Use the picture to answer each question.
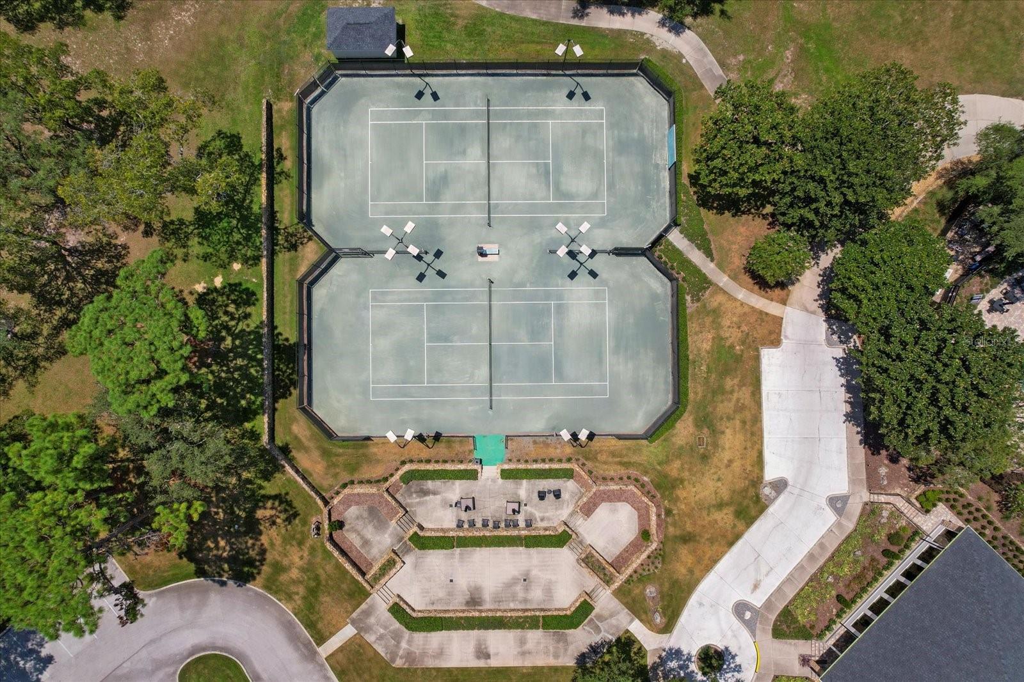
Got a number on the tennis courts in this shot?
2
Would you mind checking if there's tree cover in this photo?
Yes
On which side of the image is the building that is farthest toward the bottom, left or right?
right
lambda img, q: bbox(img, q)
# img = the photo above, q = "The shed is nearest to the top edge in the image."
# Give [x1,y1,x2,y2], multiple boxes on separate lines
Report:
[327,7,397,58]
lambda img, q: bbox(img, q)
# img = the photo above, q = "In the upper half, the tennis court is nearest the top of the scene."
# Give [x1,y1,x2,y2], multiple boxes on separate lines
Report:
[306,70,671,254]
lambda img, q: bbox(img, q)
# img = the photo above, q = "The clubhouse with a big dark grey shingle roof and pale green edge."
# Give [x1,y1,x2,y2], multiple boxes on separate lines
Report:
[796,523,1024,682]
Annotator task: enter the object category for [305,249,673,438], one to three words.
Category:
tennis court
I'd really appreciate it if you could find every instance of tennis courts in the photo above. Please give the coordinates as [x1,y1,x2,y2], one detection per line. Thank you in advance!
[306,70,671,254]
[305,249,673,438]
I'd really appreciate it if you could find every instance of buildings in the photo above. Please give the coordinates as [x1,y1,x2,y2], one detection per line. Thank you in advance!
[327,7,397,58]
[796,523,1024,682]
